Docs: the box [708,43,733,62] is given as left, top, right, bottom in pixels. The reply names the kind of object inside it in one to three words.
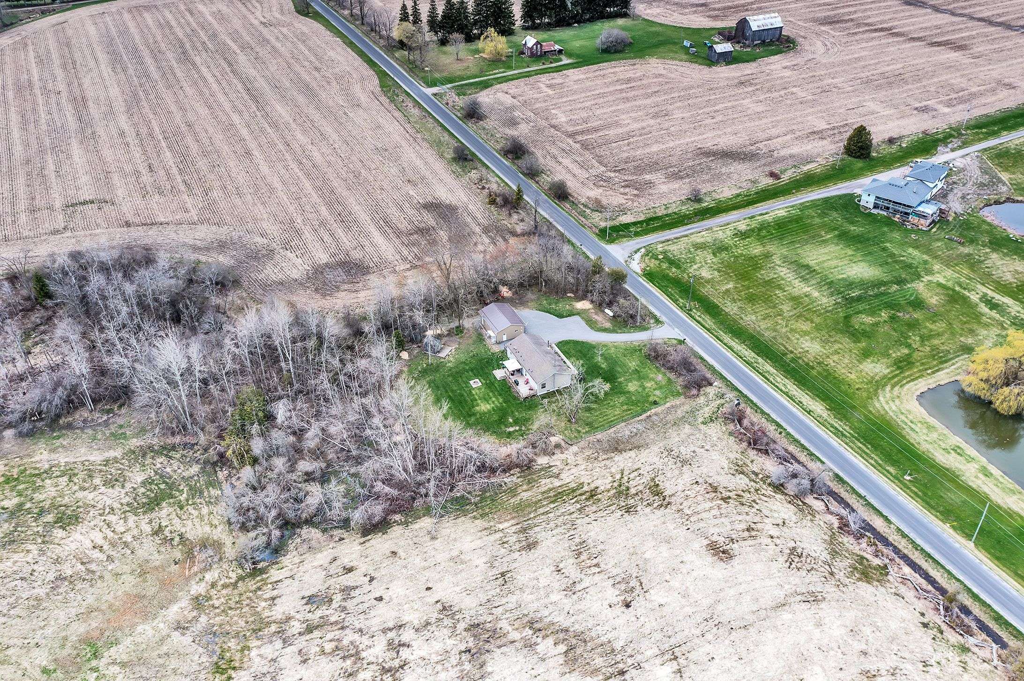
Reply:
shed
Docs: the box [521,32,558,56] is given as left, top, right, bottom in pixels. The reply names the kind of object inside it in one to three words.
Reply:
house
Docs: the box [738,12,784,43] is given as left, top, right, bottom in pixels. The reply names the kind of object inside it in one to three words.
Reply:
barn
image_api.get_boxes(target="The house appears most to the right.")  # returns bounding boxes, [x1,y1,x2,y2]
[861,161,950,223]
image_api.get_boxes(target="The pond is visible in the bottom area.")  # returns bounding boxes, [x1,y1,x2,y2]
[917,374,1024,491]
